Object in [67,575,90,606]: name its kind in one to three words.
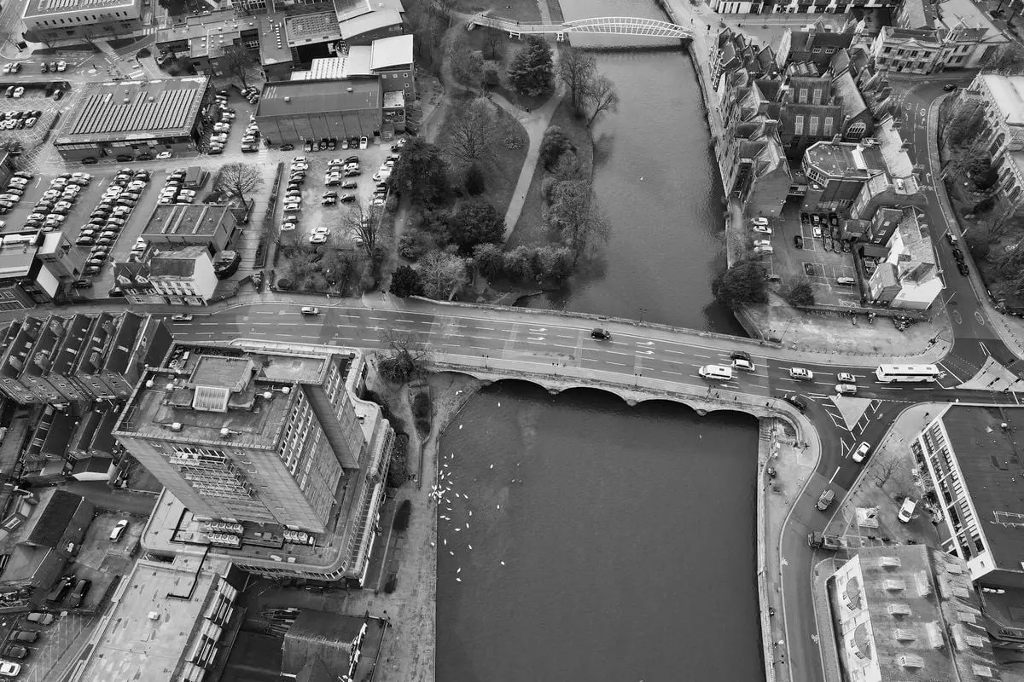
car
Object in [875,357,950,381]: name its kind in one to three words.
bus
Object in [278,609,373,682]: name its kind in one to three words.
building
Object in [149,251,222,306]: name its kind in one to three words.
house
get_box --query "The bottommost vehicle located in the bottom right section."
[809,529,855,551]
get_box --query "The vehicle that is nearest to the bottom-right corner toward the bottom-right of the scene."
[898,491,920,523]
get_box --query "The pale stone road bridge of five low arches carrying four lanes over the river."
[410,291,772,420]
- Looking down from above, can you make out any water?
Yes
